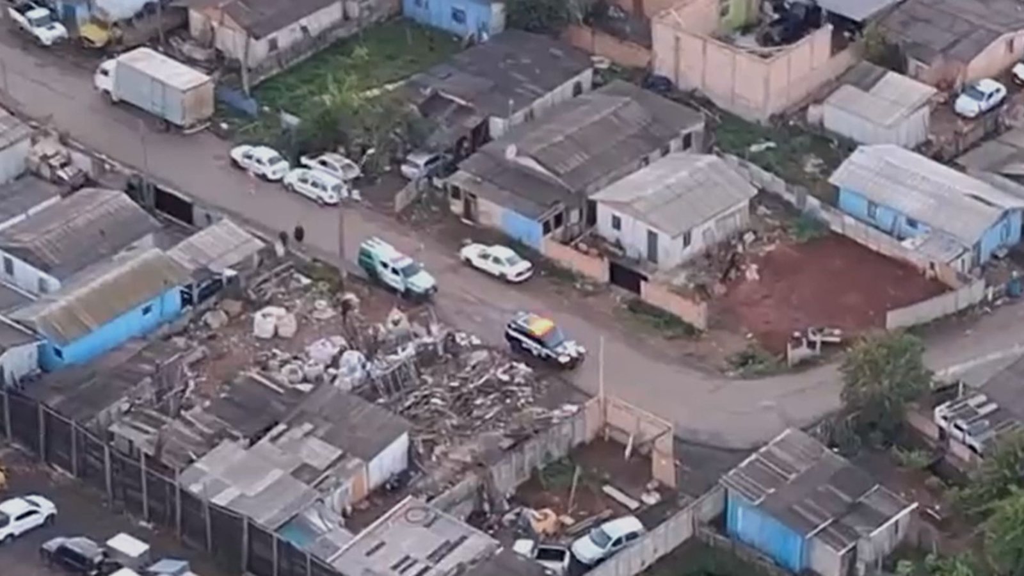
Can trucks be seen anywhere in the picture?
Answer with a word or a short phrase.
Yes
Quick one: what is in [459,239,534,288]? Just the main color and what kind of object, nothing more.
white car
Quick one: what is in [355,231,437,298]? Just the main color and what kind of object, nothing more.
white truck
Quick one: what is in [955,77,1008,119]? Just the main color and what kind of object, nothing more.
white car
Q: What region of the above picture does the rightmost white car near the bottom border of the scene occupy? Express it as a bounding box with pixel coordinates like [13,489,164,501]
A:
[569,510,649,565]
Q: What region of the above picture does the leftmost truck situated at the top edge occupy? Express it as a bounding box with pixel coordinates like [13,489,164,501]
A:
[3,7,69,49]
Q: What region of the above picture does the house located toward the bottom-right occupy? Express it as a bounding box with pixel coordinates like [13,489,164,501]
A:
[723,435,920,576]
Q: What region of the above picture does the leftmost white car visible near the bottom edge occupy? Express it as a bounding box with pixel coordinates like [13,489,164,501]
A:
[0,491,63,550]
